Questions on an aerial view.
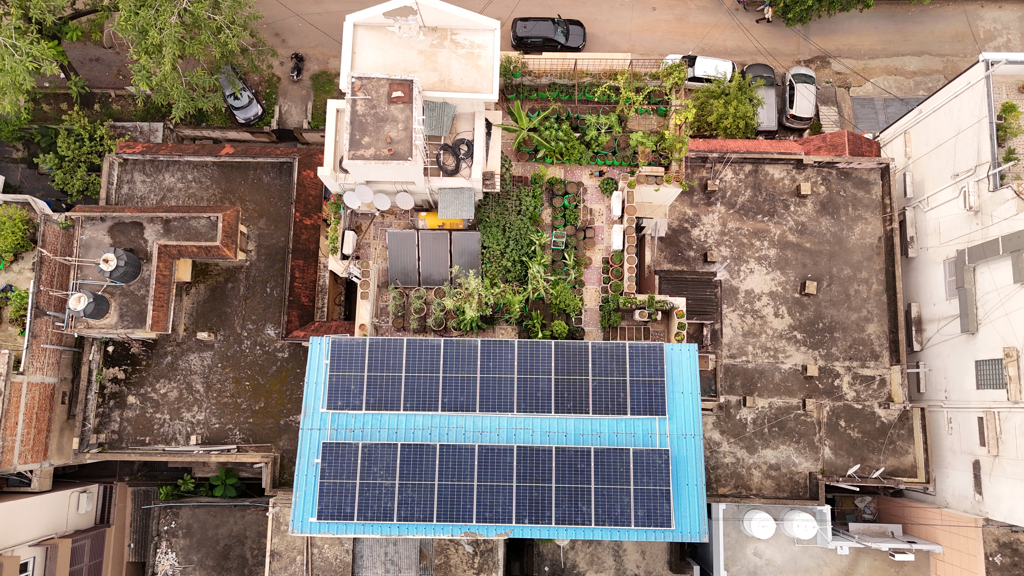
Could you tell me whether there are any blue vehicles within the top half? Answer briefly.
No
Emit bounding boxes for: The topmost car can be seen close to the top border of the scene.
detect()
[511,15,586,54]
